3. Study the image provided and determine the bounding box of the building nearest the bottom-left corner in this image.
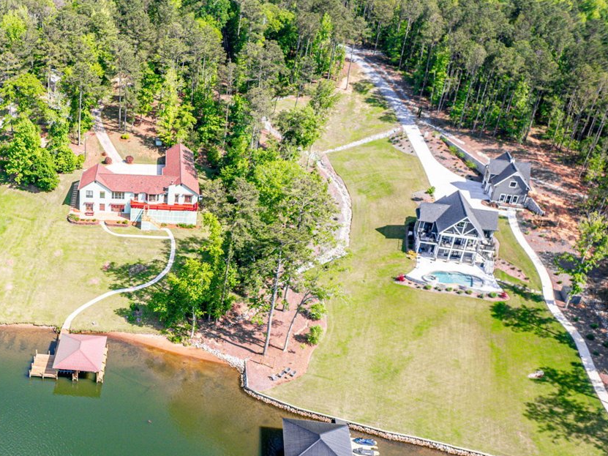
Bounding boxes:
[31,333,111,393]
